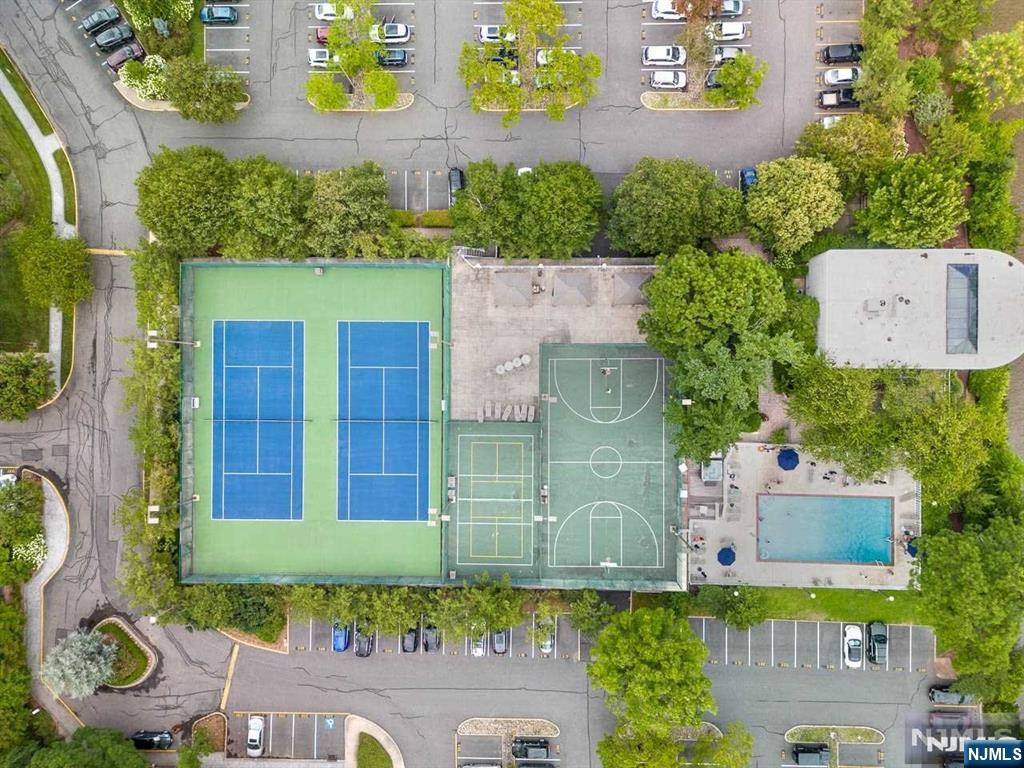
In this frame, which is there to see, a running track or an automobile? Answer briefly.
automobile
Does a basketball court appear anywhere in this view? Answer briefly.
Yes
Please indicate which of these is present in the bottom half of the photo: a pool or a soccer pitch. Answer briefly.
pool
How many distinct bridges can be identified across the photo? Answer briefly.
0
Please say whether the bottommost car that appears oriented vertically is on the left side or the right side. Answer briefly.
left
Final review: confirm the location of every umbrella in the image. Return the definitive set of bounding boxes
[898,540,920,558]
[716,546,734,565]
[775,448,797,469]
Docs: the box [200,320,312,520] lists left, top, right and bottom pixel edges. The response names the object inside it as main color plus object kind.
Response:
blue tennis court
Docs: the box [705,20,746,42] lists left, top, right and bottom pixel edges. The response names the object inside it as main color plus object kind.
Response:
white car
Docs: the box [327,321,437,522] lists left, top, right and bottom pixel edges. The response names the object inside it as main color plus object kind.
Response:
blue tennis court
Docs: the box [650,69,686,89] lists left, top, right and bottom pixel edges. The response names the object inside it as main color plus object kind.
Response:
white car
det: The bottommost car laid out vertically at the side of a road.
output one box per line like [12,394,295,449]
[246,713,266,754]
